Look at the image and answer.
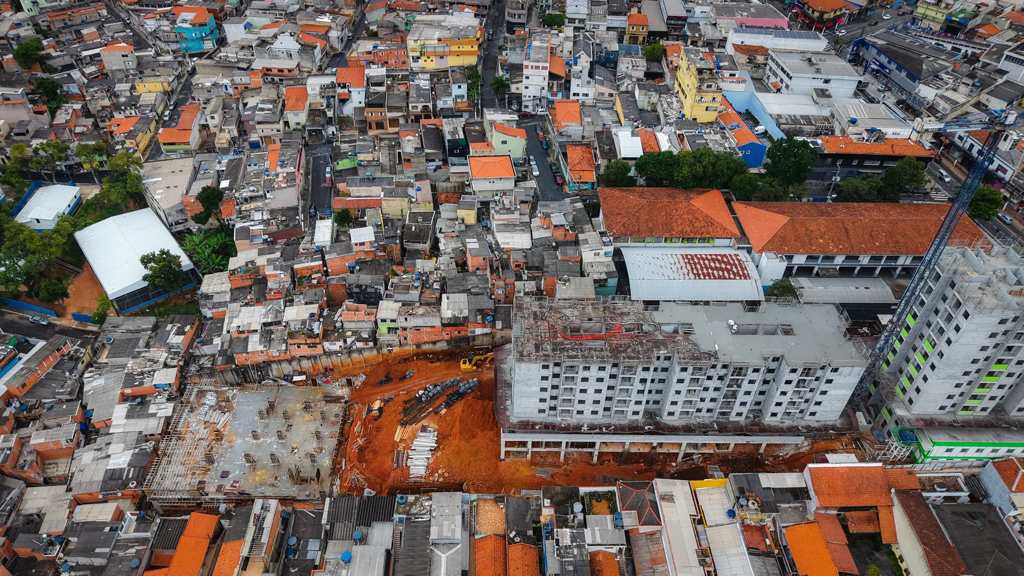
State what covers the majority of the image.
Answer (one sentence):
For the most part, this view shows buildings.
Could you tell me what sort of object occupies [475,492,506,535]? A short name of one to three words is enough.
house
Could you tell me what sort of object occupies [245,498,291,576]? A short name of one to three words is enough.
house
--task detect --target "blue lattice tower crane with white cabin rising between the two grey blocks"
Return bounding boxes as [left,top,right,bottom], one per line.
[852,84,1024,415]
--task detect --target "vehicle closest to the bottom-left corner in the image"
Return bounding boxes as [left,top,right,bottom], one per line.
[24,312,51,325]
